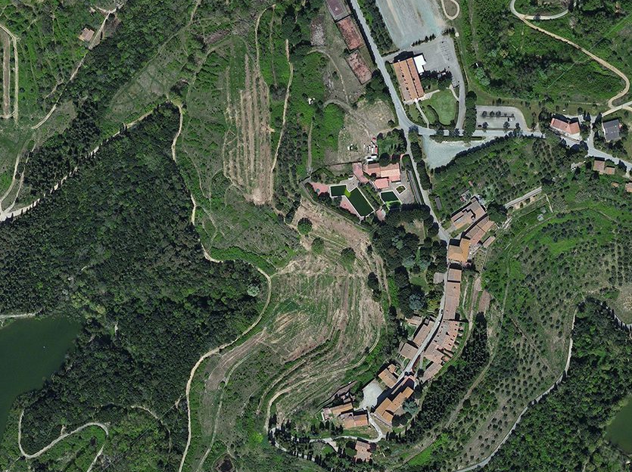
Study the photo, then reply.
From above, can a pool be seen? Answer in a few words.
Yes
